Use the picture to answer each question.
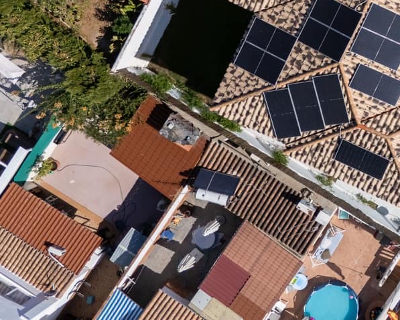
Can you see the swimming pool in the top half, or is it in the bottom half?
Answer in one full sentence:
You can find the swimming pool in the bottom half.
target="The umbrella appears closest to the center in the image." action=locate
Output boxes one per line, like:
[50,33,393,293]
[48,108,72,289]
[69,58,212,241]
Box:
[204,219,225,236]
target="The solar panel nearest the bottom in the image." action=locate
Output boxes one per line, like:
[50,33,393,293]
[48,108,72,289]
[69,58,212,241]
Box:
[334,139,391,180]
